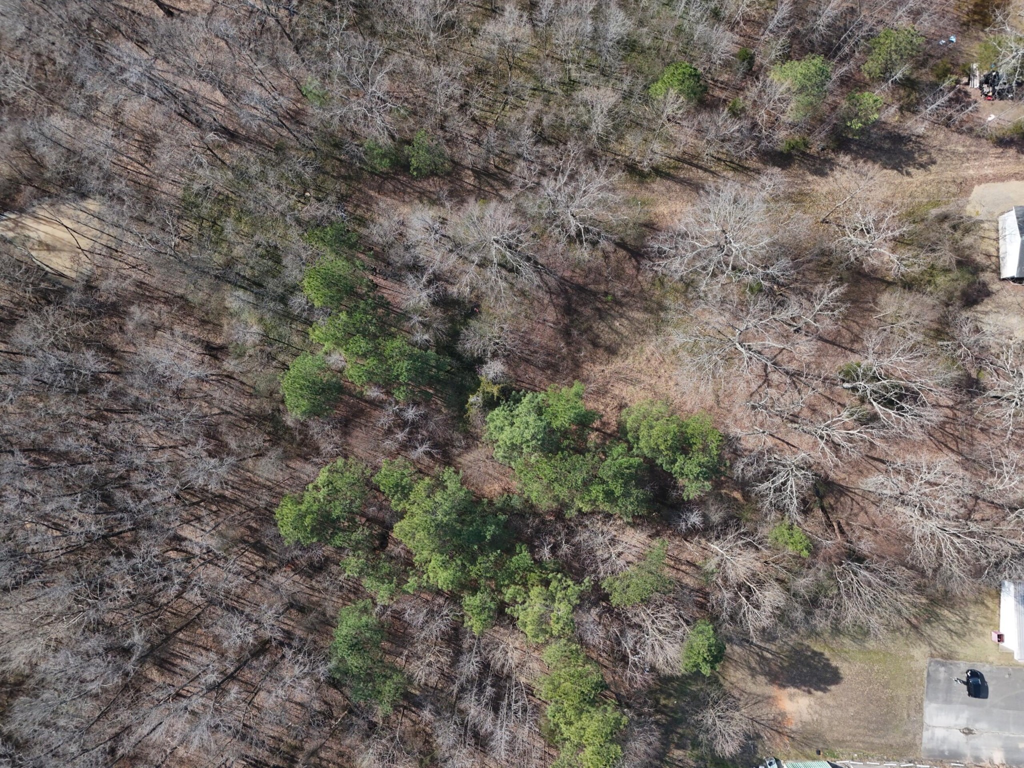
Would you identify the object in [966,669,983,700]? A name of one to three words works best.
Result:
car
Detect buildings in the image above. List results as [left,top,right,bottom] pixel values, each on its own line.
[1000,580,1024,668]
[999,208,1024,278]
[782,761,830,768]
